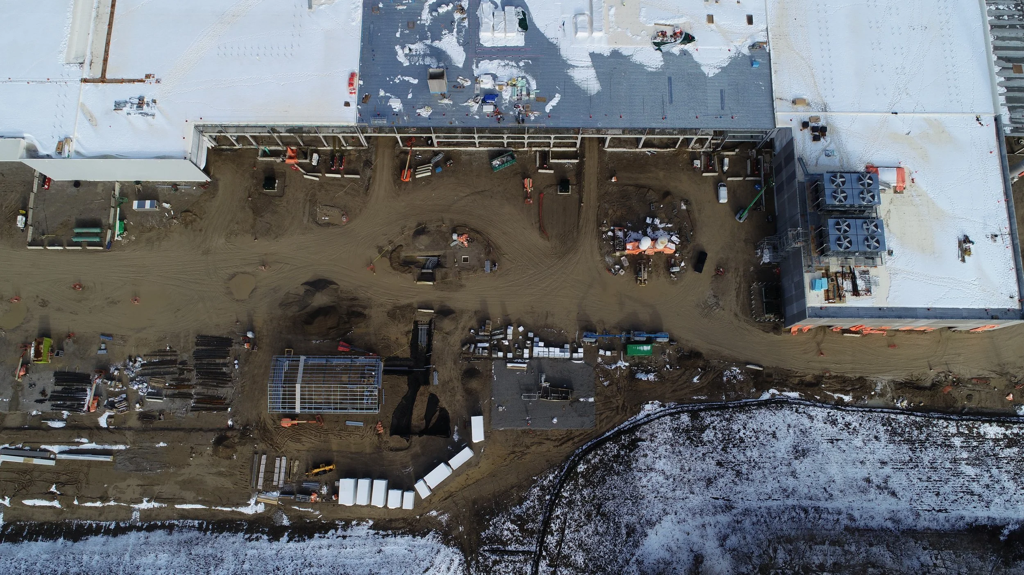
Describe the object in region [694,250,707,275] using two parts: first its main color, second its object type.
black vehicle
